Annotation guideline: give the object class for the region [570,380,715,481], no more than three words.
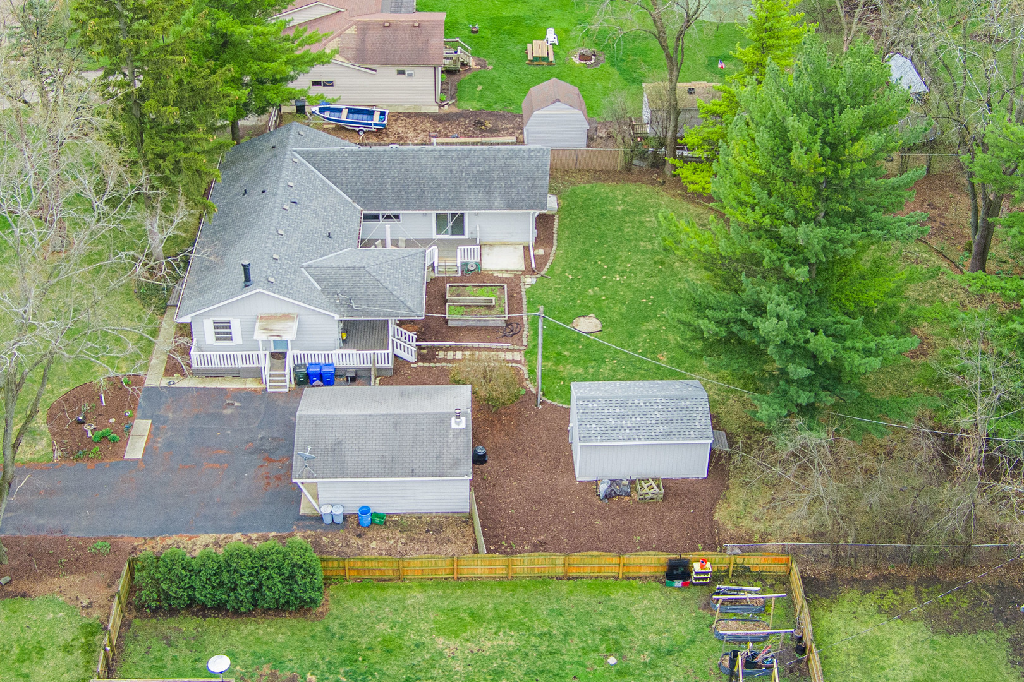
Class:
shed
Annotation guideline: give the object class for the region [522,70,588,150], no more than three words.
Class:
shed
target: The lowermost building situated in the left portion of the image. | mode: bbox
[292,384,473,515]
